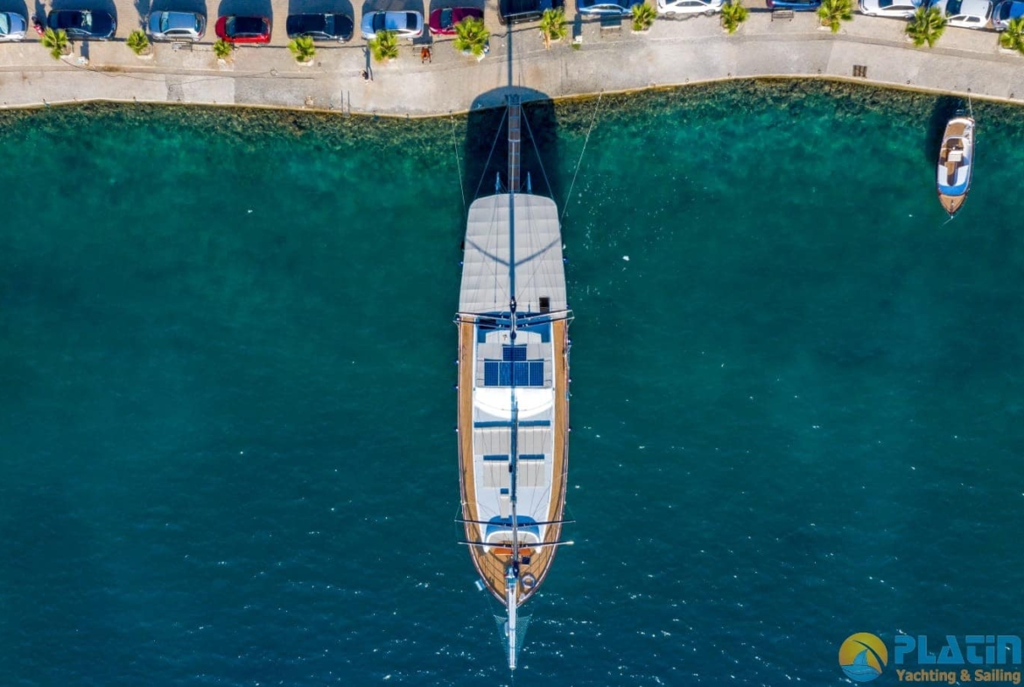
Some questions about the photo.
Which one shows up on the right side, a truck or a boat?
boat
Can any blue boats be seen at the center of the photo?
No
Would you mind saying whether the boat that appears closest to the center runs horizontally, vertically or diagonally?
vertically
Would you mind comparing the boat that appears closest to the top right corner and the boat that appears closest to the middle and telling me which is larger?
the boat that appears closest to the middle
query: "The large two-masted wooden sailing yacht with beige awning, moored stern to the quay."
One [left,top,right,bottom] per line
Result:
[453,89,575,678]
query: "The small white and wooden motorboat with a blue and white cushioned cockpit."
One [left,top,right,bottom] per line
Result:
[935,114,975,218]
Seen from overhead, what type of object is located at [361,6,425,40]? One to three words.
car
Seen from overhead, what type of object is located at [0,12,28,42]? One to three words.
car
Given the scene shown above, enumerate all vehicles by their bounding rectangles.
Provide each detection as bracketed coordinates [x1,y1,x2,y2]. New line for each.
[43,6,119,41]
[930,0,997,27]
[499,0,566,26]
[989,0,1024,31]
[575,0,645,16]
[656,0,725,15]
[285,8,355,43]
[148,7,208,42]
[0,12,28,42]
[764,0,821,11]
[429,1,485,36]
[23,11,42,34]
[858,0,921,18]
[361,6,425,40]
[215,10,272,45]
